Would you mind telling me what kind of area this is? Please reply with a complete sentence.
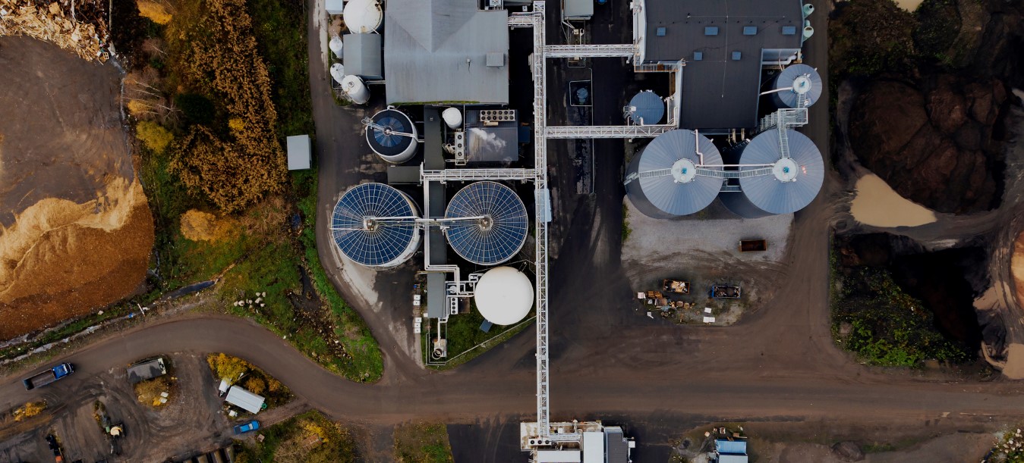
The area seen from above is an industrial area.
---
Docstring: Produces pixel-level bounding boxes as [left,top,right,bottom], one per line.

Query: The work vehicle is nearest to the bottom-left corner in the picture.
[44,435,65,463]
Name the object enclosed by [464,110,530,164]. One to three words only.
building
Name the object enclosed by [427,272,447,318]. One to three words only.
shed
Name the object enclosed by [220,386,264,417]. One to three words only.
trailer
